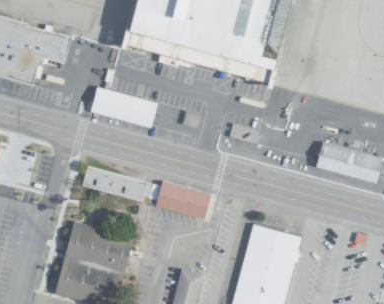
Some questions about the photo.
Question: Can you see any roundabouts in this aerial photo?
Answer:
No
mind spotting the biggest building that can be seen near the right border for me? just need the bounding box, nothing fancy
[316,142,383,183]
